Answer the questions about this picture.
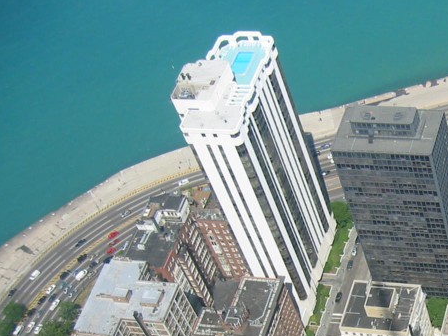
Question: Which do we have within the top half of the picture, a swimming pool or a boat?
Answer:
swimming pool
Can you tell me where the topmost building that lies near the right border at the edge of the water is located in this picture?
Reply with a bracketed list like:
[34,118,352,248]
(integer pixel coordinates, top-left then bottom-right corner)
[330,103,448,302]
